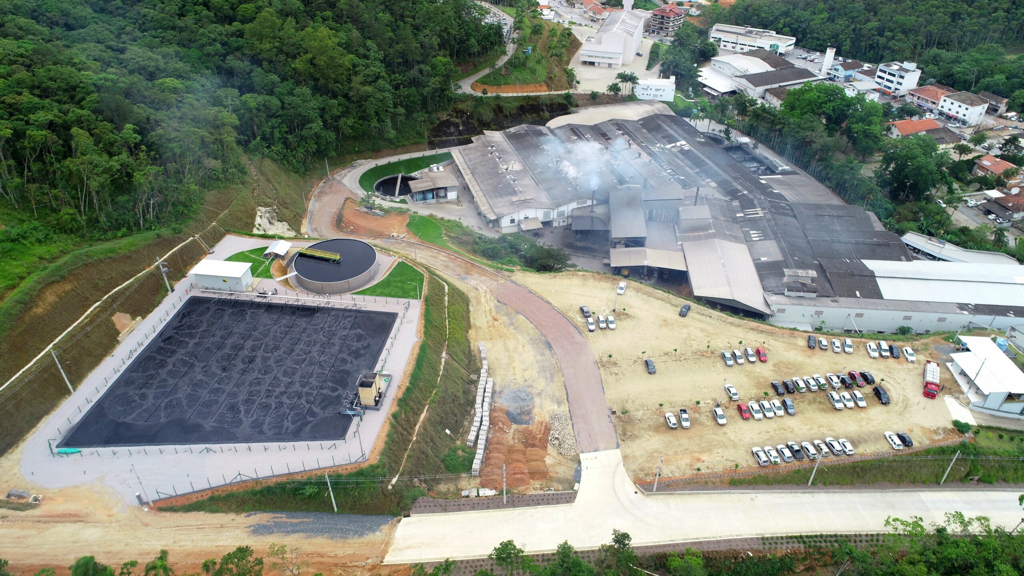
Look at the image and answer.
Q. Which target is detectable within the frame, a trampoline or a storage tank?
storage tank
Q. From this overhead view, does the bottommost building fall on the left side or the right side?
right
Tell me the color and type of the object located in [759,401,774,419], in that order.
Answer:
white car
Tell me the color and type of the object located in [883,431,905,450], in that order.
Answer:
white car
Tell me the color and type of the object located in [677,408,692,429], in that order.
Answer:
white vehicle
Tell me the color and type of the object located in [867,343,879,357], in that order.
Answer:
white vehicle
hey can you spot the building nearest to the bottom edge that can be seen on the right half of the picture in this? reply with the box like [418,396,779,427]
[945,336,1024,405]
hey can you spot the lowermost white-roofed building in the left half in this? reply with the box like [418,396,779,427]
[190,259,253,290]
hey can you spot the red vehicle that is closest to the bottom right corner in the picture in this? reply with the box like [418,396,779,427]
[923,361,941,397]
